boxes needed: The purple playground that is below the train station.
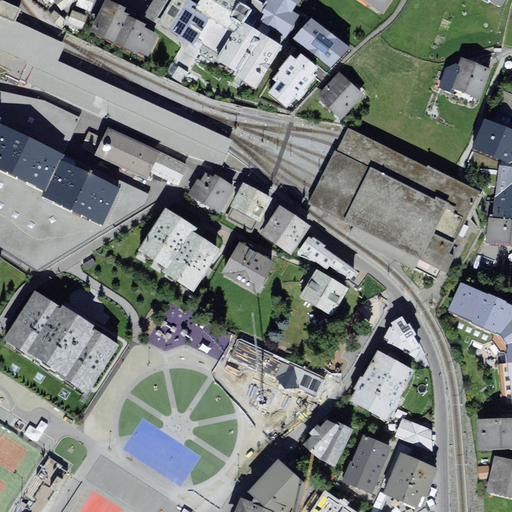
[147,303,233,359]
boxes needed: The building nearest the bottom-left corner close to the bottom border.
[14,458,64,512]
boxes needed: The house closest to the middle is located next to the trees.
[223,242,274,294]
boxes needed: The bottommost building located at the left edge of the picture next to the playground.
[5,291,118,394]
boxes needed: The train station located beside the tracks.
[0,16,232,166]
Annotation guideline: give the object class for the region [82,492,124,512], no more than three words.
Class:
sports court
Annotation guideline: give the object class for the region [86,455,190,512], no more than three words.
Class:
sports court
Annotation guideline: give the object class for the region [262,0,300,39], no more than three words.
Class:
house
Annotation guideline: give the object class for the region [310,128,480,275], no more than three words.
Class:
building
